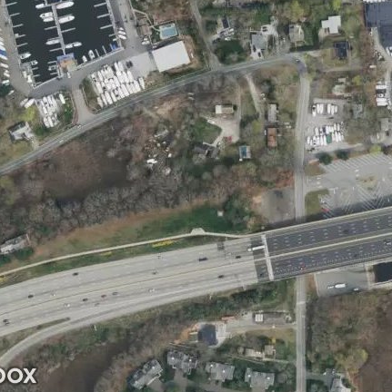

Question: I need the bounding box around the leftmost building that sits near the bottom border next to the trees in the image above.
[131,360,163,390]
